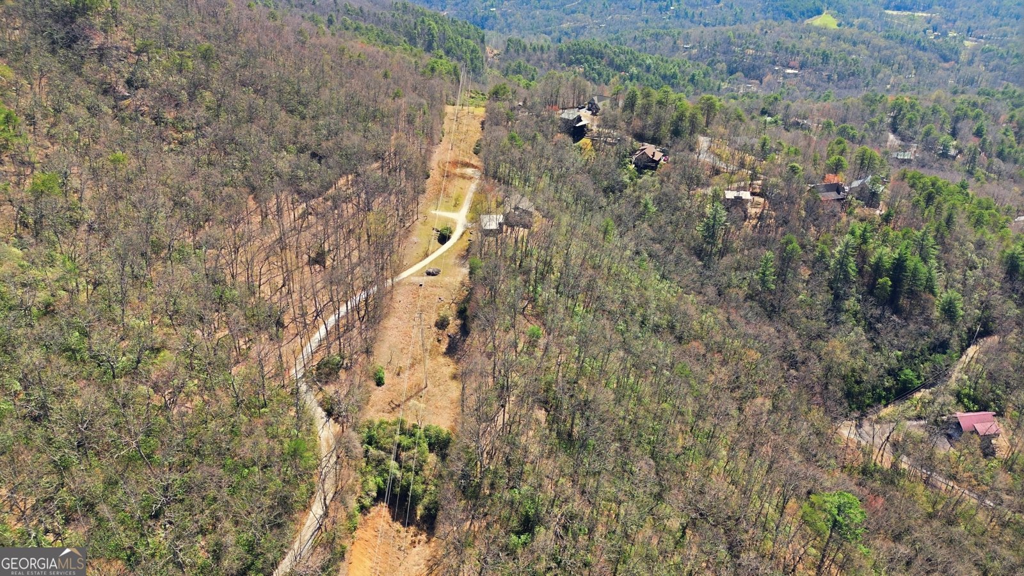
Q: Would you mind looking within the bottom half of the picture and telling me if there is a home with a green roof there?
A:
No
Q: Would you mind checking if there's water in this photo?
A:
No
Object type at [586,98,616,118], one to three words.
house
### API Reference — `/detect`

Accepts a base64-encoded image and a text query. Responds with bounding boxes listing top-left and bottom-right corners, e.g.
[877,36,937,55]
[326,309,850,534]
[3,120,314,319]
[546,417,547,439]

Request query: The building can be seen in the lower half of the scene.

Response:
[944,415,1012,447]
